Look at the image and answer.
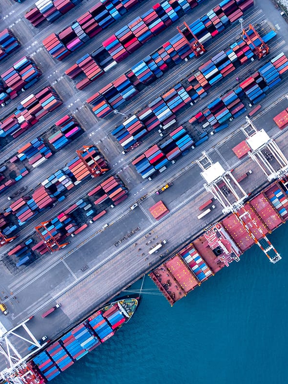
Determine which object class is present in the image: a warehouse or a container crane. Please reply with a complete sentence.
There is a container crane in the scene.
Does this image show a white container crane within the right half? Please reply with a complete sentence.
Yes, a white container crane shows up within the right half.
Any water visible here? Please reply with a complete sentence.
Yes, there's water in this view.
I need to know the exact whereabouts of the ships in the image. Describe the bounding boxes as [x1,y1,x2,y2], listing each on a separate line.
[149,174,288,306]
[0,297,140,384]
